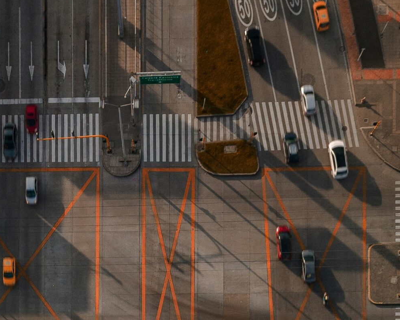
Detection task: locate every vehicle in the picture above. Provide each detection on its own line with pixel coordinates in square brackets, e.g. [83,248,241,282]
[23,104,39,135]
[299,250,316,285]
[1,256,17,287]
[298,85,316,118]
[310,1,329,34]
[23,177,39,206]
[327,140,349,181]
[244,26,265,69]
[274,225,292,260]
[281,132,300,166]
[1,122,18,162]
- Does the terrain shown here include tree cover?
No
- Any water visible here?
No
